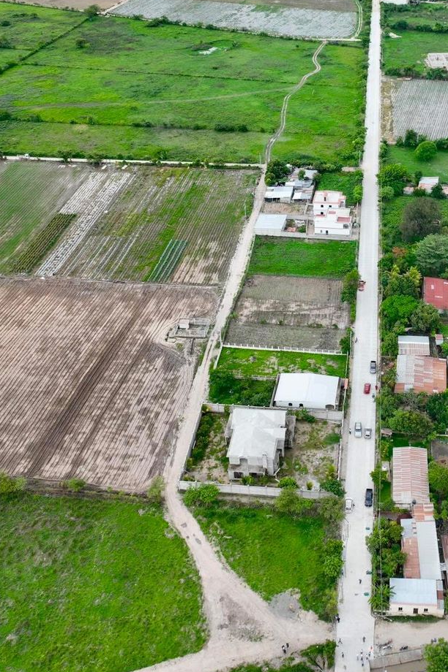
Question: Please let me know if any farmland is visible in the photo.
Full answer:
Yes, there's farmland in this view.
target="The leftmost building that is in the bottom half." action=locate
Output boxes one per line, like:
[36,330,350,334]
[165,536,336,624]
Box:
[225,411,305,481]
